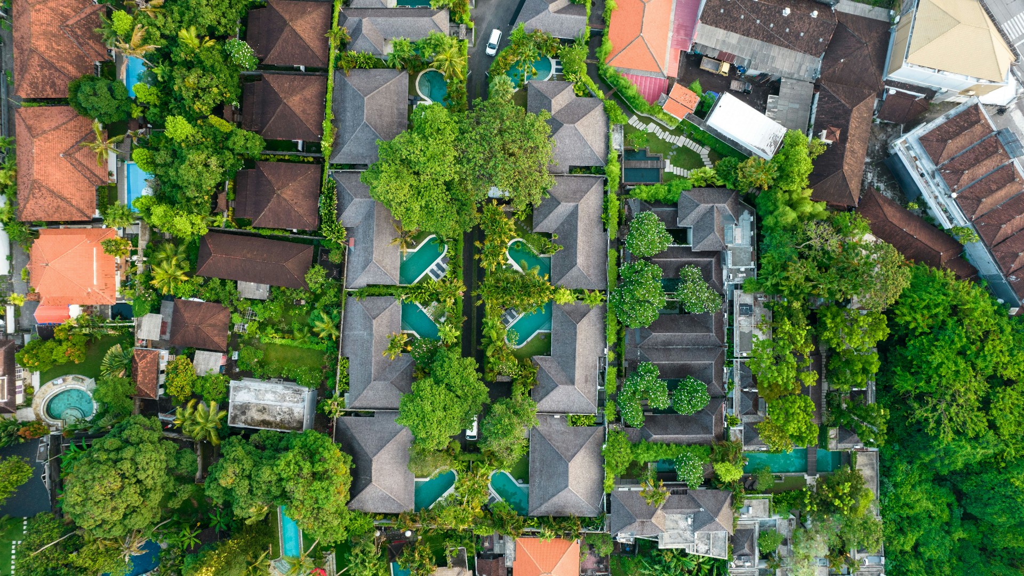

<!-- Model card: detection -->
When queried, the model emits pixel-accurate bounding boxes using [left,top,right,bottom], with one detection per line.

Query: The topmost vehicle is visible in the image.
[484,26,504,56]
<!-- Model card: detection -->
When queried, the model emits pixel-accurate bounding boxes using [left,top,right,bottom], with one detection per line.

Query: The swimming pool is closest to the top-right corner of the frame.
[621,147,663,185]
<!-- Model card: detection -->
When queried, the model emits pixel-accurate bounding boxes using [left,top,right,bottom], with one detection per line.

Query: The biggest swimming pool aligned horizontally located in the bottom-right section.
[741,448,845,476]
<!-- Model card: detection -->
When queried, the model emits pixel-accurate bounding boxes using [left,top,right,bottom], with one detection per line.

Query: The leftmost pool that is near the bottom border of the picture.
[110,539,163,576]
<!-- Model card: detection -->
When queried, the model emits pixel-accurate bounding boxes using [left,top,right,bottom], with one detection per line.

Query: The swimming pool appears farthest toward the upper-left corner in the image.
[123,53,149,99]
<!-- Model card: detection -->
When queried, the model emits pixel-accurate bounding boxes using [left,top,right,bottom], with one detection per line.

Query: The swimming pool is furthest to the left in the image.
[43,381,96,427]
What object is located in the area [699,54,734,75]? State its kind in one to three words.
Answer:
truck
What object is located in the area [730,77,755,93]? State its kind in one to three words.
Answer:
vehicle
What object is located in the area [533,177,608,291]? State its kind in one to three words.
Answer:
house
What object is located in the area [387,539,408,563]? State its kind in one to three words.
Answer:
shed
